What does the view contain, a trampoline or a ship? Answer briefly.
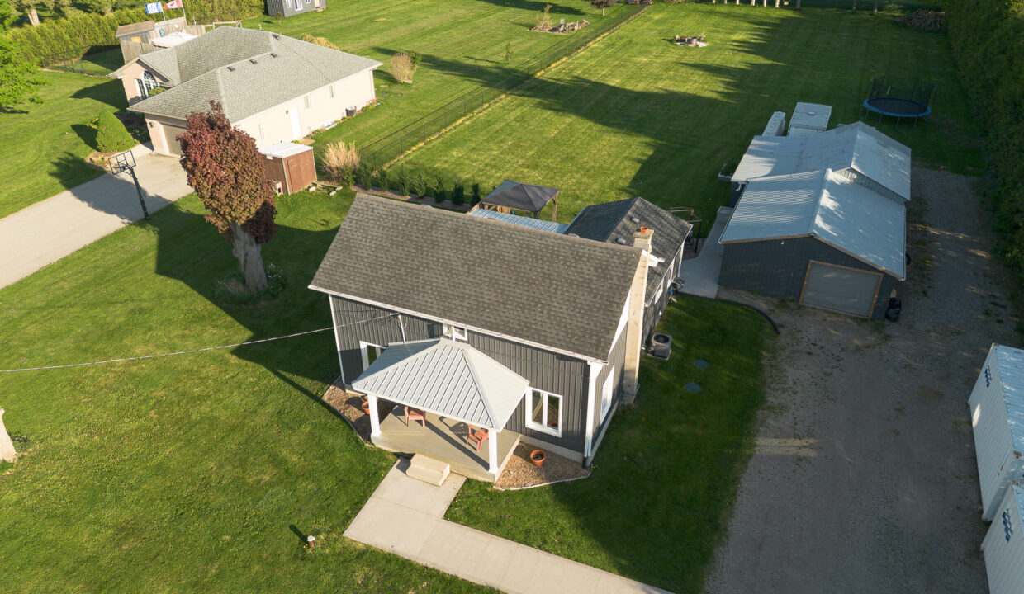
trampoline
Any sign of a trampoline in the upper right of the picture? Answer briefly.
Yes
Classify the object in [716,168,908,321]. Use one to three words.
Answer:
building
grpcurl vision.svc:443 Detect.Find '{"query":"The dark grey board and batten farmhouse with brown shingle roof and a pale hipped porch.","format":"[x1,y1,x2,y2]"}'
[304,194,693,487]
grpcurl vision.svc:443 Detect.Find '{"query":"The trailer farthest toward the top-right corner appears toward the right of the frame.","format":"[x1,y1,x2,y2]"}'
[789,103,831,136]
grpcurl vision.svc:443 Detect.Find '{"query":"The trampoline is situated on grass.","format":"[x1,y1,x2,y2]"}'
[863,75,940,129]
